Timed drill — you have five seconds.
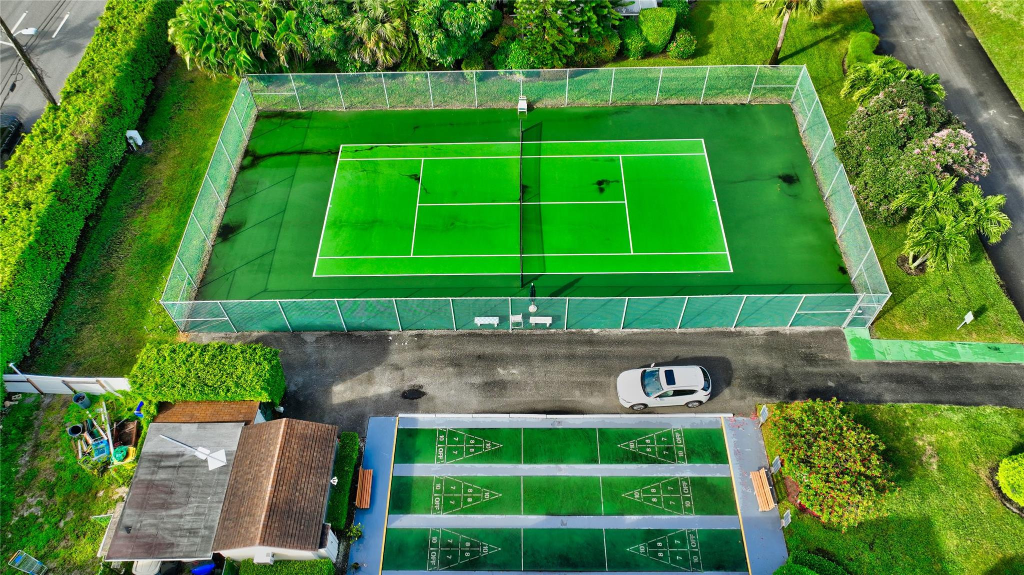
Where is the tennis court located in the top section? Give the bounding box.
[186,103,866,331]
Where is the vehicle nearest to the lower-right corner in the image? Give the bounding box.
[618,361,713,407]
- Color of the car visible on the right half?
white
